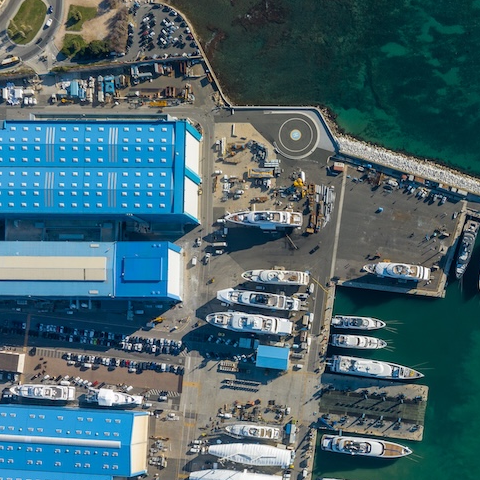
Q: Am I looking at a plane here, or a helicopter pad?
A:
helicopter pad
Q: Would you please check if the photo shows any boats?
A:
Yes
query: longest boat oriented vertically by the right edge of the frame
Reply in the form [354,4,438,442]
[456,212,478,282]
